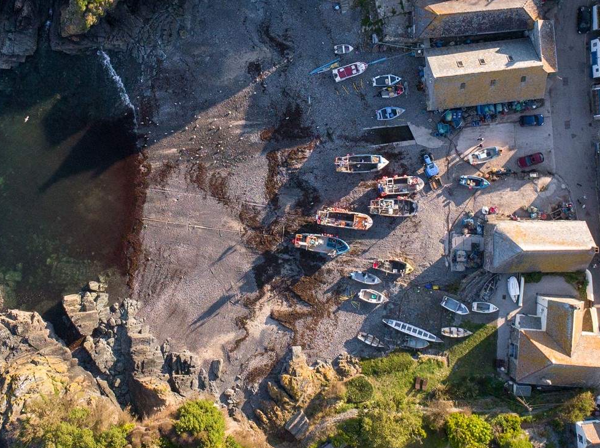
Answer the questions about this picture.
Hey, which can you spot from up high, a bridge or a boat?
boat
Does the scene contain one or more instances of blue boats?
Yes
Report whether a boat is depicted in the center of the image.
Yes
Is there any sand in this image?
Yes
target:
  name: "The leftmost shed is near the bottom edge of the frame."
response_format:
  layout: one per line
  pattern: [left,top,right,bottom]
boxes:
[284,407,310,441]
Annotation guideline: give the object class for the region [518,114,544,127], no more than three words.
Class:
vehicle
